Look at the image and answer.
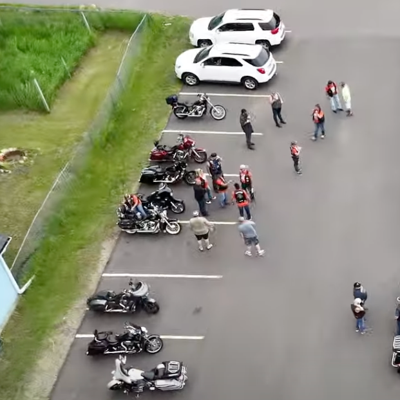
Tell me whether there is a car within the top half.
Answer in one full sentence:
Yes, a car appears within the top half.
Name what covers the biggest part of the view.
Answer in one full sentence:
The scene is dominated by paved ground.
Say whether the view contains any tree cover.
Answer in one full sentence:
No, tree cover can't be seen anywhere here.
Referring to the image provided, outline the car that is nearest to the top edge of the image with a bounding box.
[186,1,292,50]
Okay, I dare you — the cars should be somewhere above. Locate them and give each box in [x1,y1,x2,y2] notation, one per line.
[186,1,292,50]
[170,39,277,90]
